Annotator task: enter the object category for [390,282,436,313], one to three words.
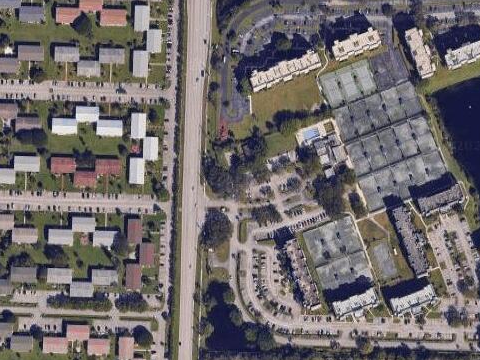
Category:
building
